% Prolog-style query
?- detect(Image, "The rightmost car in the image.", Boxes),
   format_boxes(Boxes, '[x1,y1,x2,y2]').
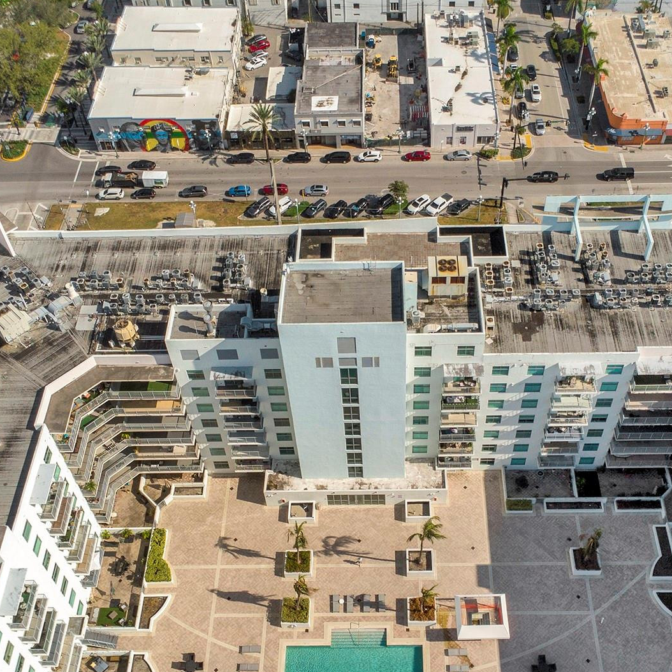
[604,167,633,182]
